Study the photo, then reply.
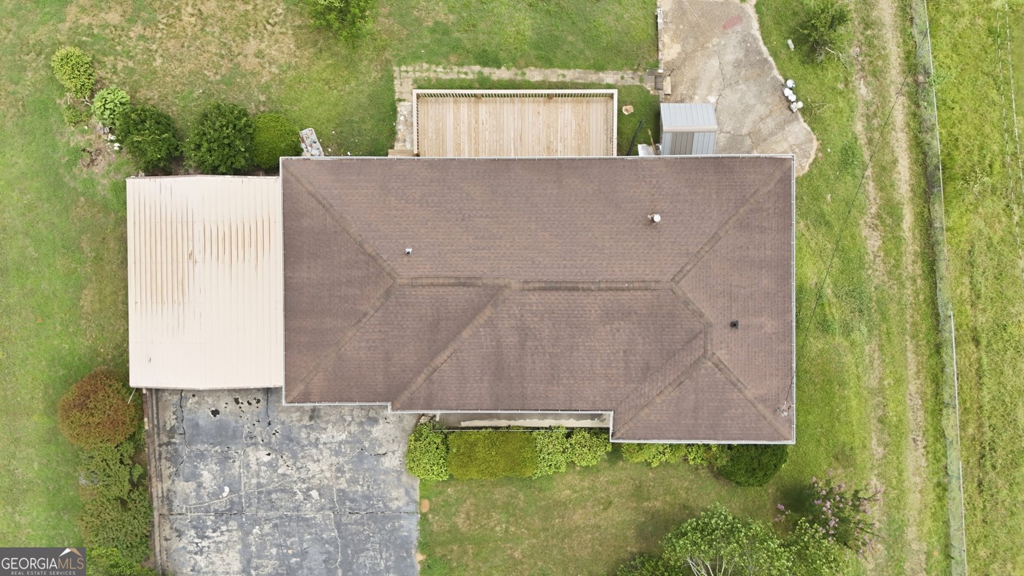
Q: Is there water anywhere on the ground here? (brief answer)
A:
No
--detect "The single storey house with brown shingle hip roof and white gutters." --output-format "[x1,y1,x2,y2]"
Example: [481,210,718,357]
[280,154,797,445]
